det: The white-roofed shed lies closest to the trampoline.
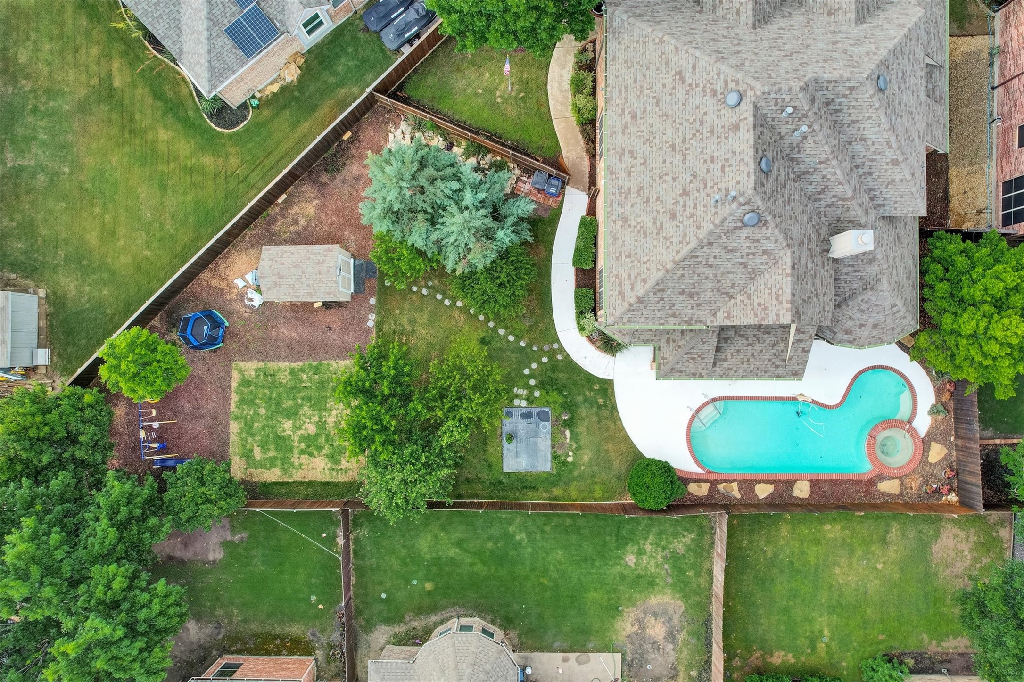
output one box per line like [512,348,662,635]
[258,245,355,301]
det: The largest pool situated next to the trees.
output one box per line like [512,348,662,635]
[678,364,919,480]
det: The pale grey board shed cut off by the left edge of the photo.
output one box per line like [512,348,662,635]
[0,288,37,372]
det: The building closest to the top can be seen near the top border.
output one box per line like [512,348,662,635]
[120,0,372,108]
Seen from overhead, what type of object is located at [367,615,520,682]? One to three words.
house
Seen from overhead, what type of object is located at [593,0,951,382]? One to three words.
house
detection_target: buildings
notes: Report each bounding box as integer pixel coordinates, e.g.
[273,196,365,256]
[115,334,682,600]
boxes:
[0,288,37,372]
[120,0,372,108]
[593,0,951,382]
[258,245,355,301]
[367,615,520,682]
[186,654,316,682]
[988,0,1024,229]
[904,670,973,682]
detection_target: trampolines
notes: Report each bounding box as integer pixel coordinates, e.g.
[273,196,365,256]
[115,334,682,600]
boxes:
[178,308,230,352]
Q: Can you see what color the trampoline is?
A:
blue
